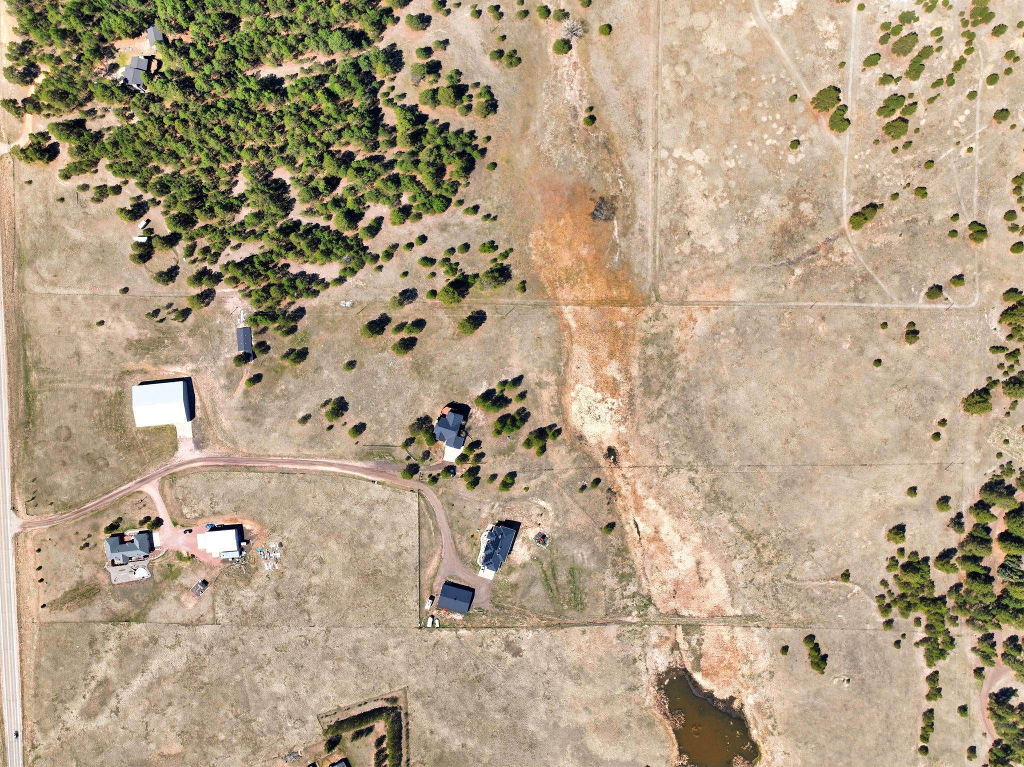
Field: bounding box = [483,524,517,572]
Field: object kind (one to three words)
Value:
house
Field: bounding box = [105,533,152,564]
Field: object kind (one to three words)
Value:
house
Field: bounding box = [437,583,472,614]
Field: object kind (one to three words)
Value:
building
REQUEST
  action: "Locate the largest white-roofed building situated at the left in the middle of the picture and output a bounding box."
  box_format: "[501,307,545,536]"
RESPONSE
[132,381,191,427]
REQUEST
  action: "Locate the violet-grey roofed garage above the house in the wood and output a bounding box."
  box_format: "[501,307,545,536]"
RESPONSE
[147,26,165,48]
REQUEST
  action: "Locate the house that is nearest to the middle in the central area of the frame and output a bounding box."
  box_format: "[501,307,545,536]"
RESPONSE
[434,407,465,450]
